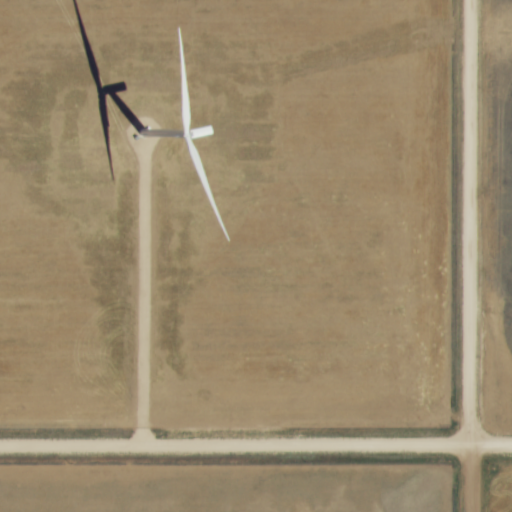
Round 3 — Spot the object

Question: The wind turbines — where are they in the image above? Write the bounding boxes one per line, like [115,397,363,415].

[136,26,228,240]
